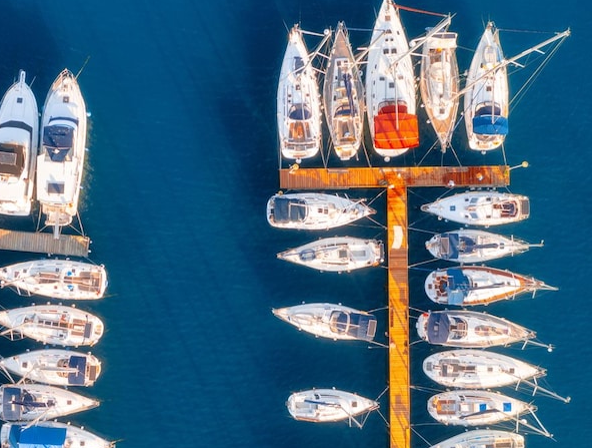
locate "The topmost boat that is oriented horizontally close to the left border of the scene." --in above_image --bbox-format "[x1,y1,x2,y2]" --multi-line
[0,254,107,302]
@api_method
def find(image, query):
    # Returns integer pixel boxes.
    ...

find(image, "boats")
[33,64,91,238]
[417,26,500,171]
[273,23,327,171]
[411,345,574,401]
[413,383,557,439]
[413,425,526,448]
[361,0,452,171]
[0,65,40,231]
[411,264,564,308]
[0,301,104,347]
[411,307,555,352]
[410,188,530,229]
[323,19,385,171]
[410,226,549,266]
[0,345,102,385]
[0,380,102,427]
[287,383,395,429]
[0,418,114,448]
[458,20,571,171]
[267,191,393,232]
[0,254,107,302]
[274,232,392,274]
[269,298,393,346]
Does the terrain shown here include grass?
No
